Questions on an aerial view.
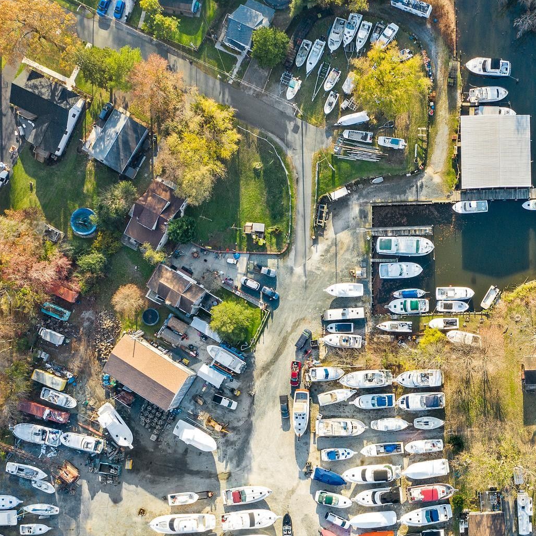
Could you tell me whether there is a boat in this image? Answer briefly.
Yes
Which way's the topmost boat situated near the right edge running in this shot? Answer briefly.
from left to right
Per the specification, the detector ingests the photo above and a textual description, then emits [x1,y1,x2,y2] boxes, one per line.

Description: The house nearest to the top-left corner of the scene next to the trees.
[9,68,89,159]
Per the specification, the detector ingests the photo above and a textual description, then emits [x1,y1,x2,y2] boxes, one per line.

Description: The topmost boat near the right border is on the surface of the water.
[465,57,513,78]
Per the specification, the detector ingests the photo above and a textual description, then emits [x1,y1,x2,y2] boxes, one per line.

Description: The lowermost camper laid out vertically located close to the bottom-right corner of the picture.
[516,492,532,534]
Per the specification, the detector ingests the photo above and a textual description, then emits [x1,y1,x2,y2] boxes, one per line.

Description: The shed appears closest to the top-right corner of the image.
[460,113,531,192]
